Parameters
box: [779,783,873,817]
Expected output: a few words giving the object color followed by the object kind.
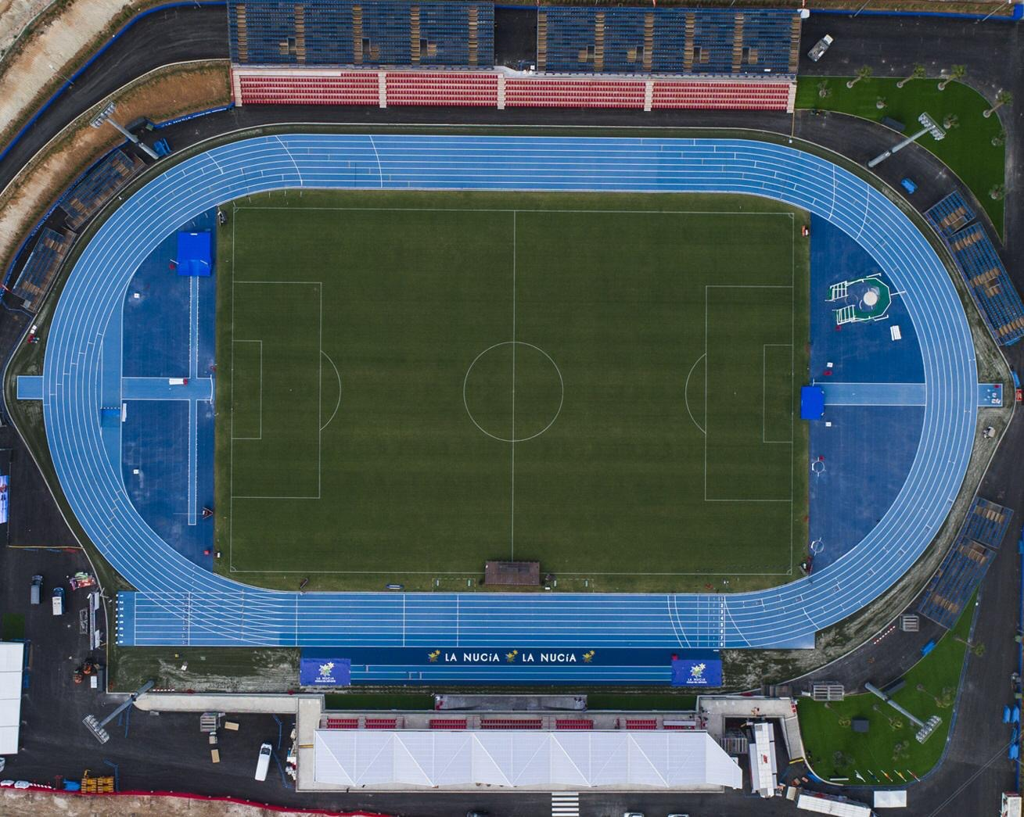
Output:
white truck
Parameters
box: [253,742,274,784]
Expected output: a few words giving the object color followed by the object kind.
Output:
white vehicle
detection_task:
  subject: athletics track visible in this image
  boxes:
[17,134,1003,687]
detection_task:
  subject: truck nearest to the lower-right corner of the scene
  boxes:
[995,788,1023,817]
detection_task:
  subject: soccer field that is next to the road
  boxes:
[214,188,810,594]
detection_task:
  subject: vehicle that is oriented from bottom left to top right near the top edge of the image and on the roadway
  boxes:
[808,34,833,62]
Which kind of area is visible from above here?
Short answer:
sports ground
